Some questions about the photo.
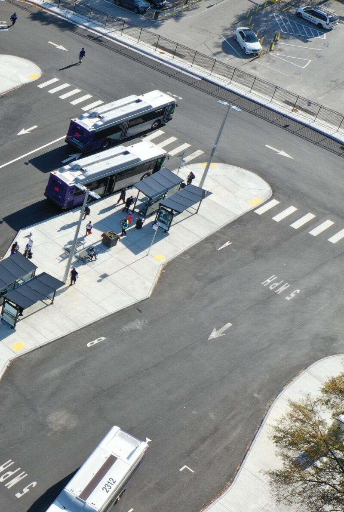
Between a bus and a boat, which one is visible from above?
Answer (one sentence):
The one in the frame is a bus.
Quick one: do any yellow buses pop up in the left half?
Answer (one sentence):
No, no yellow bus can be made out in the left half.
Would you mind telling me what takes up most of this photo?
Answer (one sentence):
For the most part, this view shows paved ground.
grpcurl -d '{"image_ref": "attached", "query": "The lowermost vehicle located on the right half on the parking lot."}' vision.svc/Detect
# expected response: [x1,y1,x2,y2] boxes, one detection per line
[233,29,261,54]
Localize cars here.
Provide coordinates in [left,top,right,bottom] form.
[112,0,153,13]
[233,29,261,54]
[297,3,341,29]
[146,0,169,9]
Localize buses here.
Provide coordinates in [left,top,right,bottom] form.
[43,138,170,211]
[45,427,154,512]
[63,89,178,154]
